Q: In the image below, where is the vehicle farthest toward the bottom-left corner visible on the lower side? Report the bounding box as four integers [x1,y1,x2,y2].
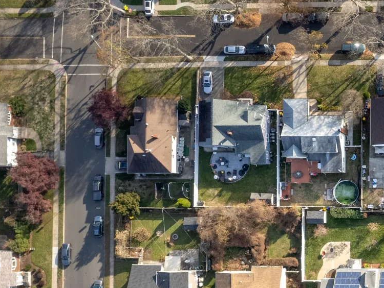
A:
[61,244,73,265]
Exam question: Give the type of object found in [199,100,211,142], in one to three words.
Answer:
solar array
